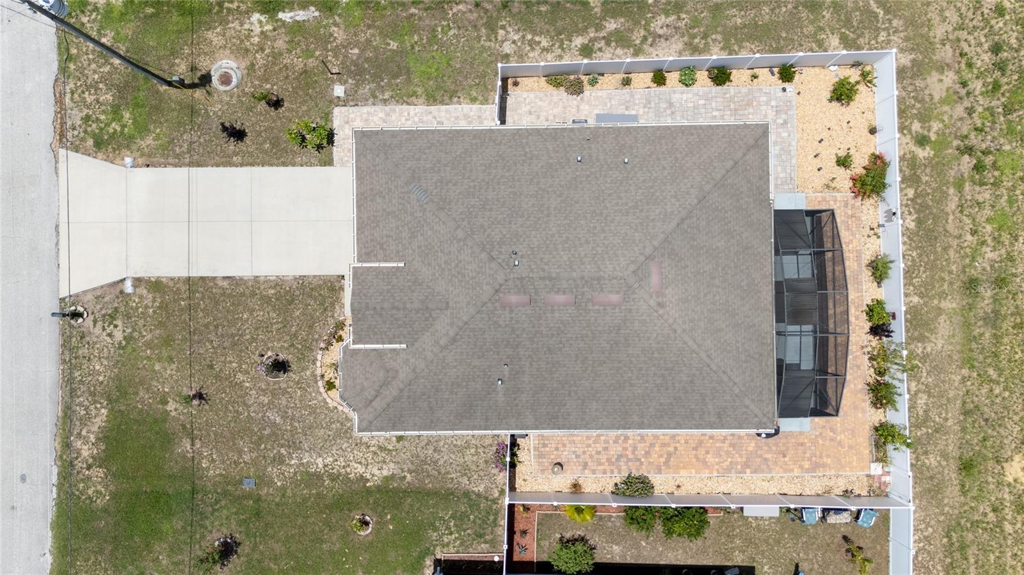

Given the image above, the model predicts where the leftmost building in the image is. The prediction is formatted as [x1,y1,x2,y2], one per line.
[336,119,779,436]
